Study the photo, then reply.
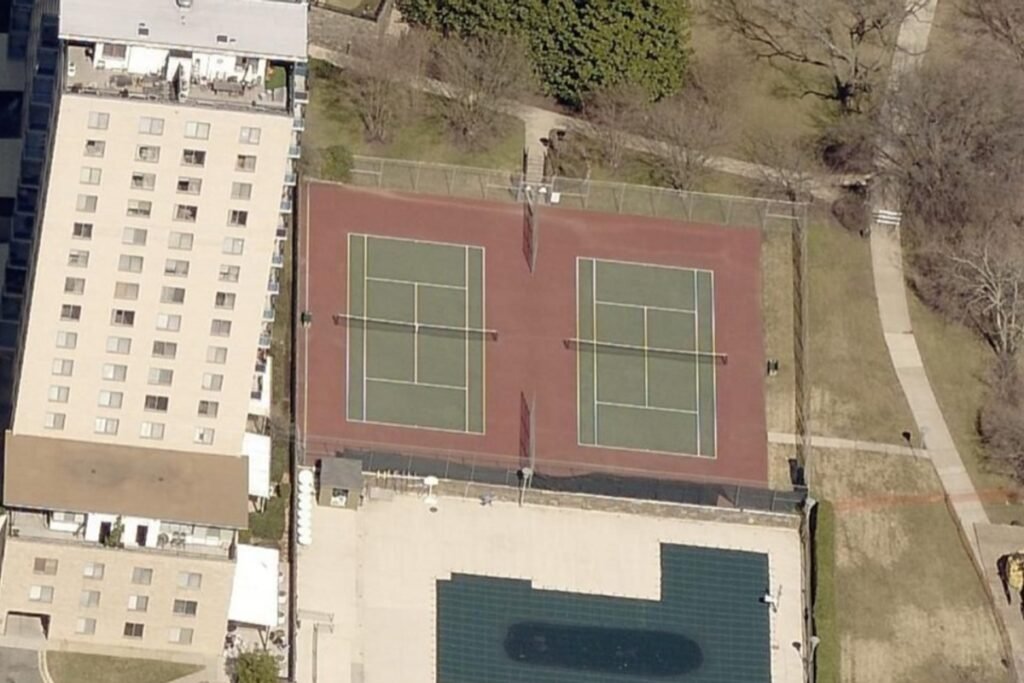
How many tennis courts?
2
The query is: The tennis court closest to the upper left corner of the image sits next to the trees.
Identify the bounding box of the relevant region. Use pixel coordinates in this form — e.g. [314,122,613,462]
[300,181,531,488]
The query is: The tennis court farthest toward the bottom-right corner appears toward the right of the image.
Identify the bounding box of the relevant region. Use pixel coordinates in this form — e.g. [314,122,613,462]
[531,204,766,511]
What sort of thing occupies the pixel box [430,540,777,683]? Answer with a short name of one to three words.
swimming pool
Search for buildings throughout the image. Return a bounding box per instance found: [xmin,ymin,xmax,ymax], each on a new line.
[318,459,361,509]
[0,0,308,656]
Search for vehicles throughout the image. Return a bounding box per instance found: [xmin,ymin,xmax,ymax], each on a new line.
[1004,554,1024,595]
